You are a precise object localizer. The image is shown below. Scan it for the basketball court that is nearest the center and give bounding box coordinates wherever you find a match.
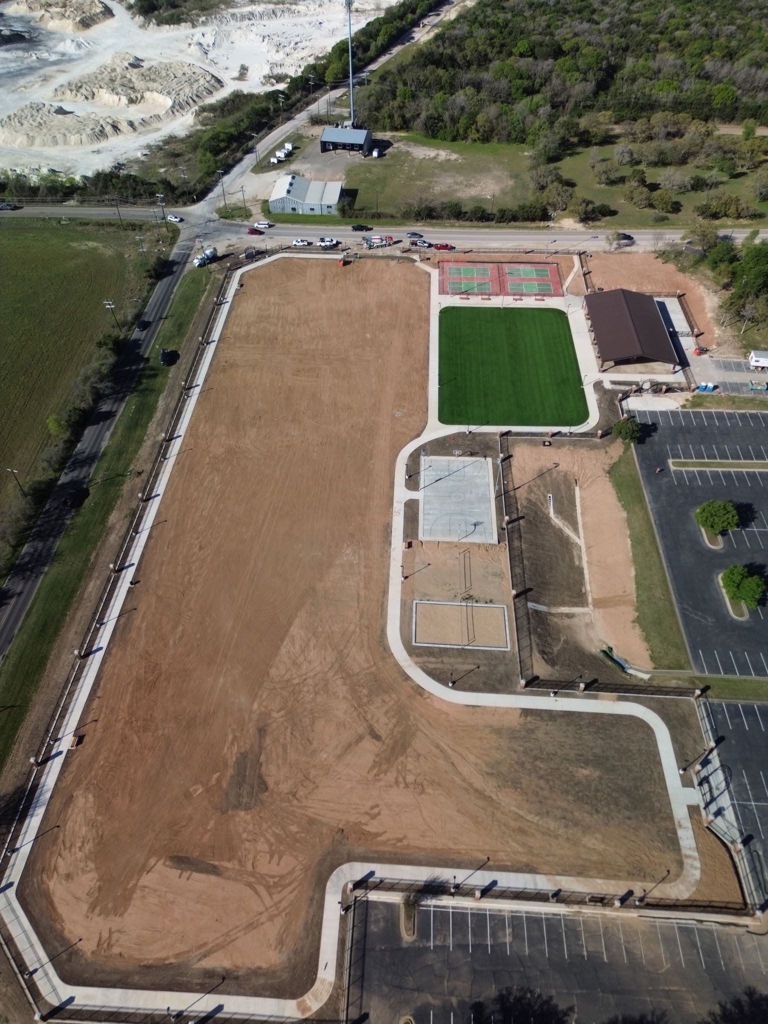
[419,456,498,544]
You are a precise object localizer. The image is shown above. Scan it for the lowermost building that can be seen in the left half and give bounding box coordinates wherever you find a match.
[268,175,344,215]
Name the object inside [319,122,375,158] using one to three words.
shed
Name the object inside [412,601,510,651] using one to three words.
sports court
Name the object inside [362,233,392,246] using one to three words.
vehicle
